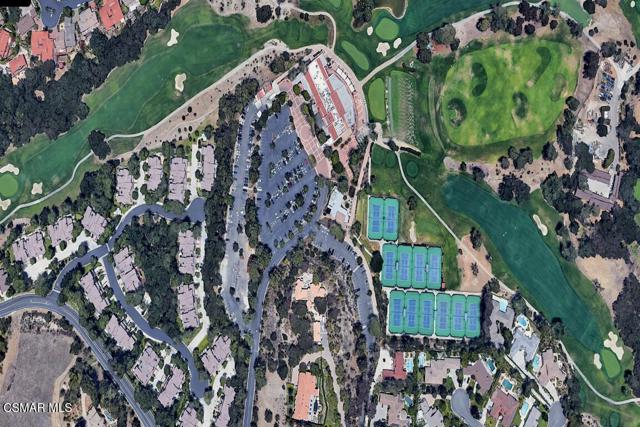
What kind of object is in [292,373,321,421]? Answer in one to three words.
house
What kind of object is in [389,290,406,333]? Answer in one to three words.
tennis court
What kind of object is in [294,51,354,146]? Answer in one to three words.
building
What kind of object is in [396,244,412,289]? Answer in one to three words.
tennis court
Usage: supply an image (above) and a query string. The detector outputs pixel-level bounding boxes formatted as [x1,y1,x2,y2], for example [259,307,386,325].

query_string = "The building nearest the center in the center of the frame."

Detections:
[329,190,349,223]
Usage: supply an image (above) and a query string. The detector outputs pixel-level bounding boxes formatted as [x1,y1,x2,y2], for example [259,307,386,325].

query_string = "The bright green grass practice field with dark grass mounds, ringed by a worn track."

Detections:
[429,38,581,154]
